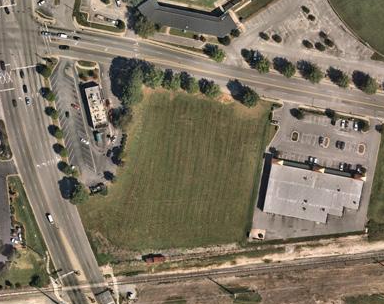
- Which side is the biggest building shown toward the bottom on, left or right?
right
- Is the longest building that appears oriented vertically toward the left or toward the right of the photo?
left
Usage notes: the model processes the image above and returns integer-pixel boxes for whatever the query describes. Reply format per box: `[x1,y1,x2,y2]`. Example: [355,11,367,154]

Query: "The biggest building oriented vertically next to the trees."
[85,85,107,129]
